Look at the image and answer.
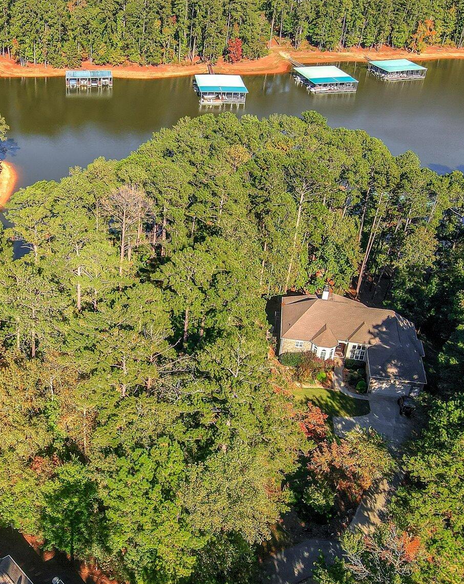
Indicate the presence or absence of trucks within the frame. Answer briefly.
No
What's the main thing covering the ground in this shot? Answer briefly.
trees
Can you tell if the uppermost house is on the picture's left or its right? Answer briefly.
right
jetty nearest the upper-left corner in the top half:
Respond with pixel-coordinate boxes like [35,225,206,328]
[67,71,113,88]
